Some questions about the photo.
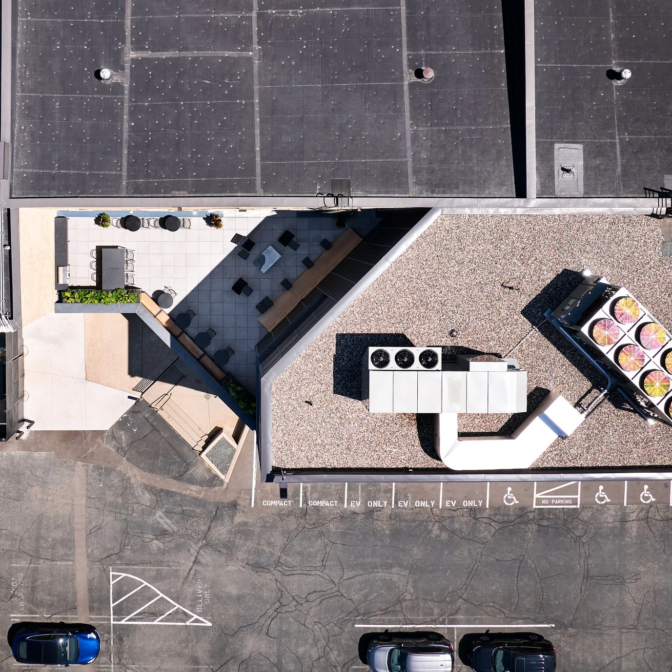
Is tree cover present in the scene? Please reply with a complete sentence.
No, no tree cover is visible.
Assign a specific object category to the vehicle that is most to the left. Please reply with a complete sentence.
Looking closely, the vehicle that is most to the left is a car.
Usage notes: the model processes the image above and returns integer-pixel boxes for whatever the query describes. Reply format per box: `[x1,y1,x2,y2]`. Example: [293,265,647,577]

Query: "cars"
[13,621,104,671]
[467,642,558,672]
[367,640,455,672]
